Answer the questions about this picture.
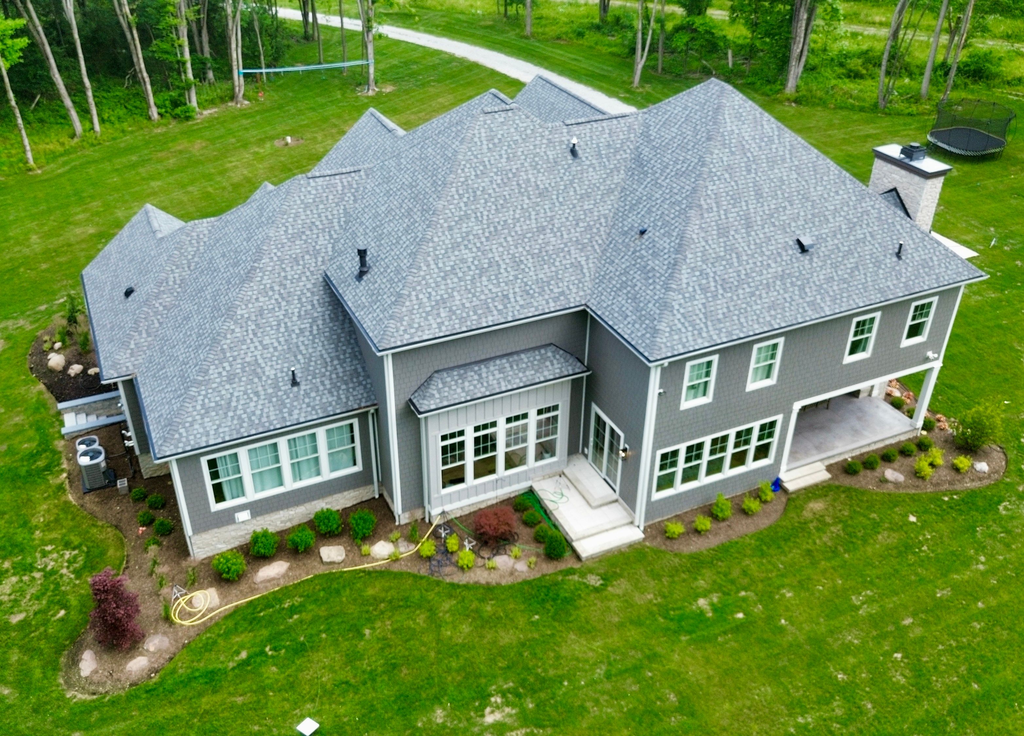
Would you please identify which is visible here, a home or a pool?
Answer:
home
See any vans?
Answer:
No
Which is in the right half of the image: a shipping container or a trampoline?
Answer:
trampoline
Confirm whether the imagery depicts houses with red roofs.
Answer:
No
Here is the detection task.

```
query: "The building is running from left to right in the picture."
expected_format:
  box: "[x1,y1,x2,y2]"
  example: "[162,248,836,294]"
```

[77,73,995,560]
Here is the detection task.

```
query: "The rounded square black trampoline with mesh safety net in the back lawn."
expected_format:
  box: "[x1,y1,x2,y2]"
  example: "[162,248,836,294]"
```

[927,100,1016,163]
